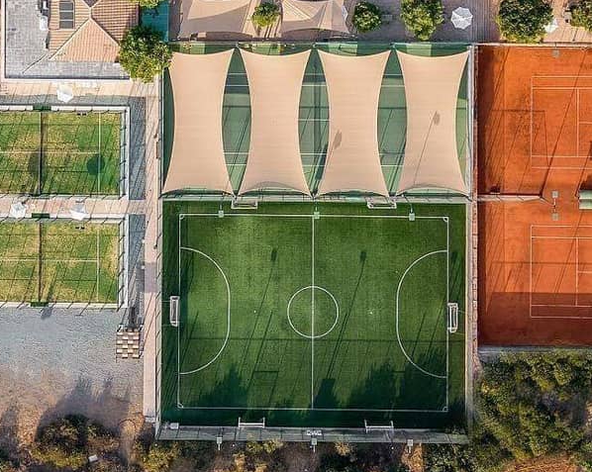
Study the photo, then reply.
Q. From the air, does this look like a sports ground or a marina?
sports ground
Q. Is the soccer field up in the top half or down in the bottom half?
bottom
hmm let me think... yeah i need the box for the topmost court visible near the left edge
[0,104,127,203]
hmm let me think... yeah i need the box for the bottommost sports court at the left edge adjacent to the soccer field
[0,215,125,314]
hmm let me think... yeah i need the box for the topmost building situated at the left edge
[2,0,145,80]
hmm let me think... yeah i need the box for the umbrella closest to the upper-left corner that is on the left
[58,85,74,101]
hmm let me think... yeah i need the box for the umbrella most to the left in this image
[11,200,27,216]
